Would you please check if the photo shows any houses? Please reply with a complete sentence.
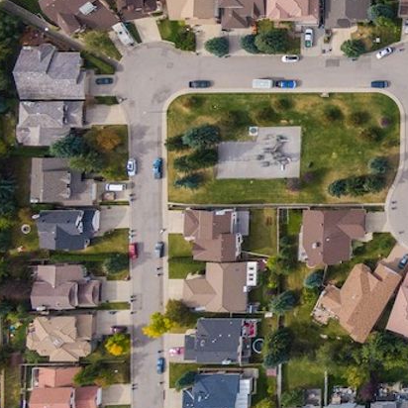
Yes, you can see a house in this photo.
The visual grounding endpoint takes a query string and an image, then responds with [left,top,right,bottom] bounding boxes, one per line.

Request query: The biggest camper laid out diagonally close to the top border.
[112,20,138,48]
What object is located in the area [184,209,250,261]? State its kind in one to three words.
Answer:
house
